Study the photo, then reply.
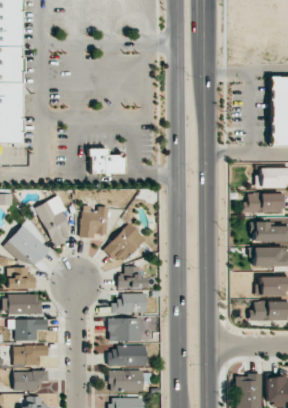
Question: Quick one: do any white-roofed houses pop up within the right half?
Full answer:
Yes, there is a white-roofed house within the right half.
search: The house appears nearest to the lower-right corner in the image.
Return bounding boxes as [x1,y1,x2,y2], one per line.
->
[267,376,288,408]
